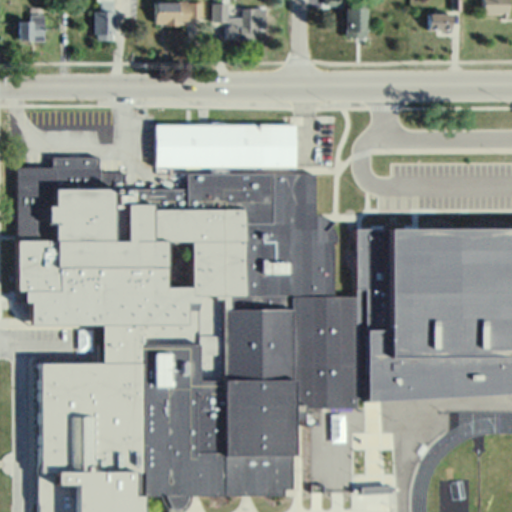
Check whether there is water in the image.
No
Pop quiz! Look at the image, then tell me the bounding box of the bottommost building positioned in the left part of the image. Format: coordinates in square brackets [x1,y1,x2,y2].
[16,157,356,512]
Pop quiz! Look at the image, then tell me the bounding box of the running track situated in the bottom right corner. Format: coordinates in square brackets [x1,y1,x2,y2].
[410,412,512,512]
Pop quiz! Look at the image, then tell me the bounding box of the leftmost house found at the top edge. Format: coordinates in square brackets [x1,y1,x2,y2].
[18,10,48,42]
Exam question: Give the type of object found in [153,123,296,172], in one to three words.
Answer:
building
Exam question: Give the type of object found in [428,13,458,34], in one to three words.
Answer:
house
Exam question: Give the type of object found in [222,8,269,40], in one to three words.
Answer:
house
